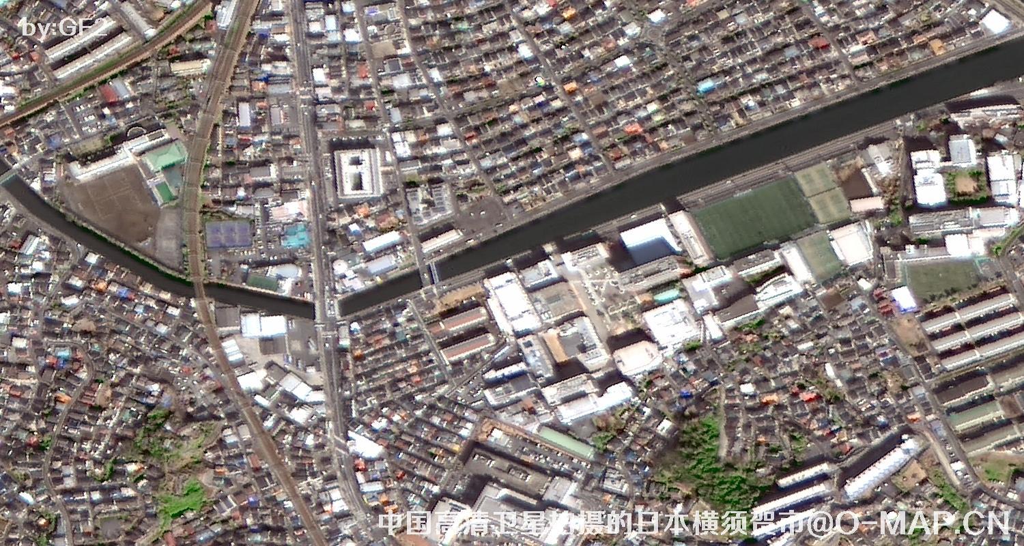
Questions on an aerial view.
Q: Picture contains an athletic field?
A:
Yes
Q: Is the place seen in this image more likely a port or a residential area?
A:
residential area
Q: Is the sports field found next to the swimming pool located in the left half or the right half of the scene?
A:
left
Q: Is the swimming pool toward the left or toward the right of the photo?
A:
left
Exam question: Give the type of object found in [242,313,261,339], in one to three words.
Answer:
building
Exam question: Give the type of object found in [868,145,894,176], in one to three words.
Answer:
building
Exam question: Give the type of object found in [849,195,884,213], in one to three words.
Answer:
shed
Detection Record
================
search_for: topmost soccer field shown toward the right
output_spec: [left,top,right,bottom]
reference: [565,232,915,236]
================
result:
[692,176,818,259]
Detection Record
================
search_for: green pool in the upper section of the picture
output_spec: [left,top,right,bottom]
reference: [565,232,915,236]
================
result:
[154,179,175,205]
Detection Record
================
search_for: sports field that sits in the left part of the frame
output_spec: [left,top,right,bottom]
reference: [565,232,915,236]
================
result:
[63,164,160,244]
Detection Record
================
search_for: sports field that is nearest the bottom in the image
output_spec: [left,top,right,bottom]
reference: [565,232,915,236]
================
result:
[903,256,981,302]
